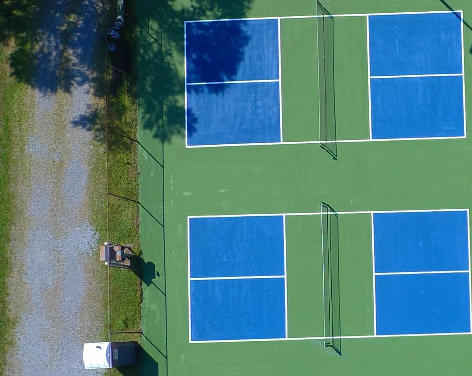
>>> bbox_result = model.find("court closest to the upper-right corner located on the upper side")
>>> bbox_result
[369,12,462,76]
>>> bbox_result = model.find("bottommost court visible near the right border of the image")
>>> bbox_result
[375,271,472,335]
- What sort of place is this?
sports ground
